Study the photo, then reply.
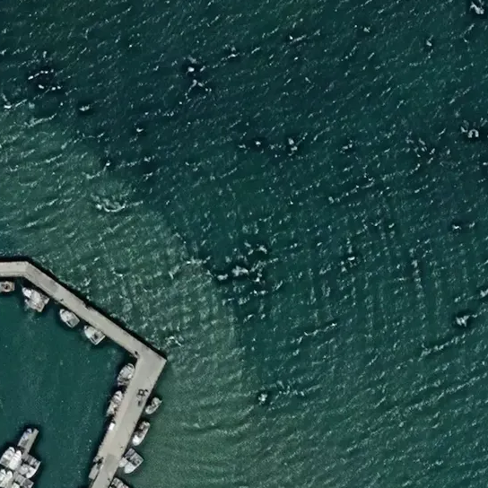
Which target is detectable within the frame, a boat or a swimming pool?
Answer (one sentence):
The one in the frame is a boat.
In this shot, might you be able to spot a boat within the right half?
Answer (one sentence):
No, I see no boat within the right half.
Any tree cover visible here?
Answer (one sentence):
No, there is no tree cover in the image.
